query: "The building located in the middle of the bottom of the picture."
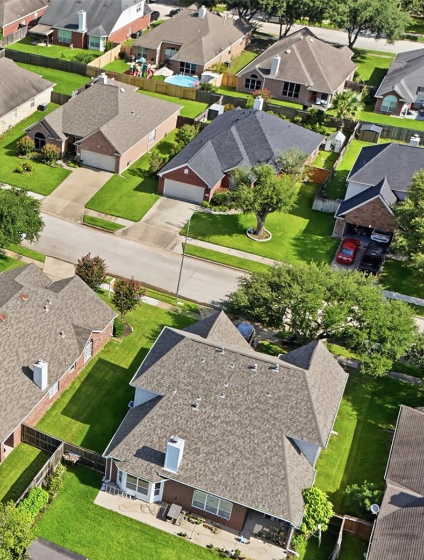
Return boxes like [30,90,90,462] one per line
[100,307,351,560]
